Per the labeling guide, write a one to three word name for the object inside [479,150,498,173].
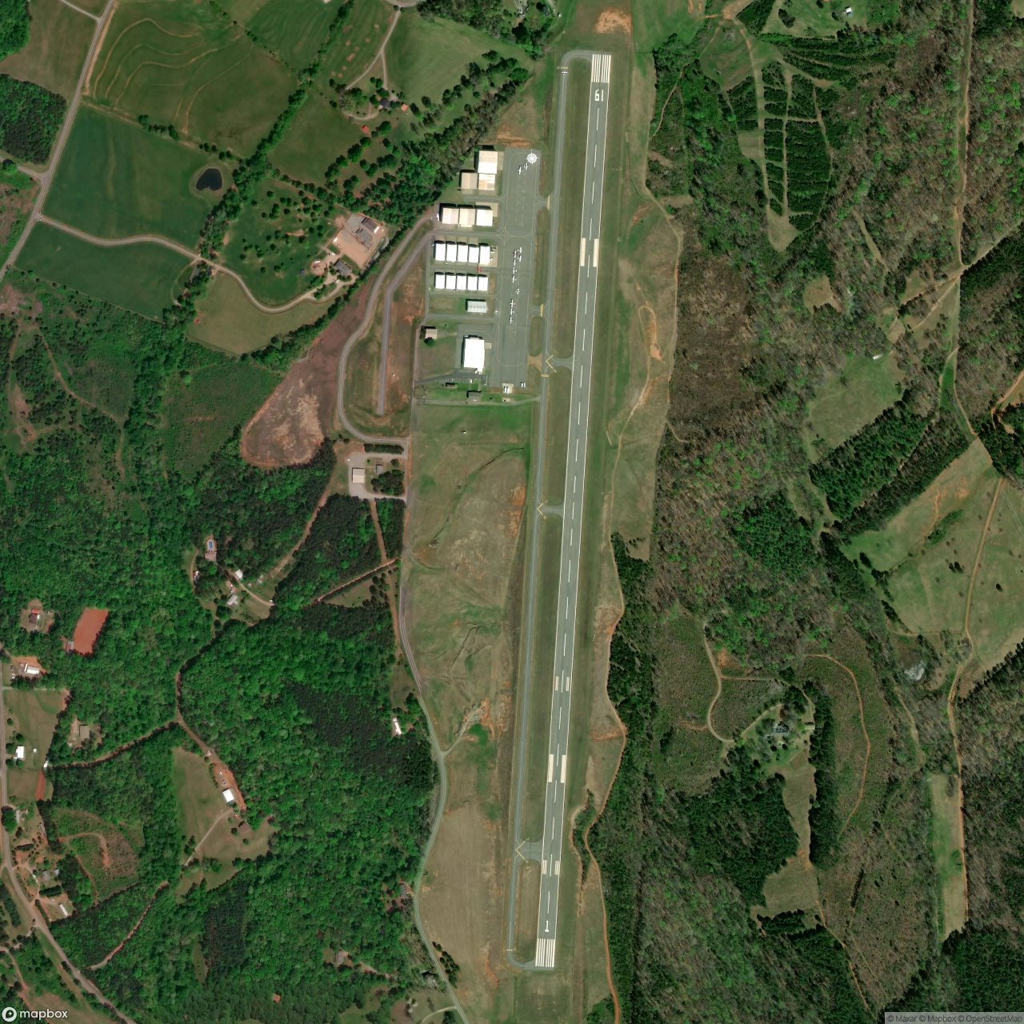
hangar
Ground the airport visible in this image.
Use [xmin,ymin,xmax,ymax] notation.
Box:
[415,50,612,972]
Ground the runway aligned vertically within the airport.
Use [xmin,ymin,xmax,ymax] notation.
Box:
[535,53,611,972]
